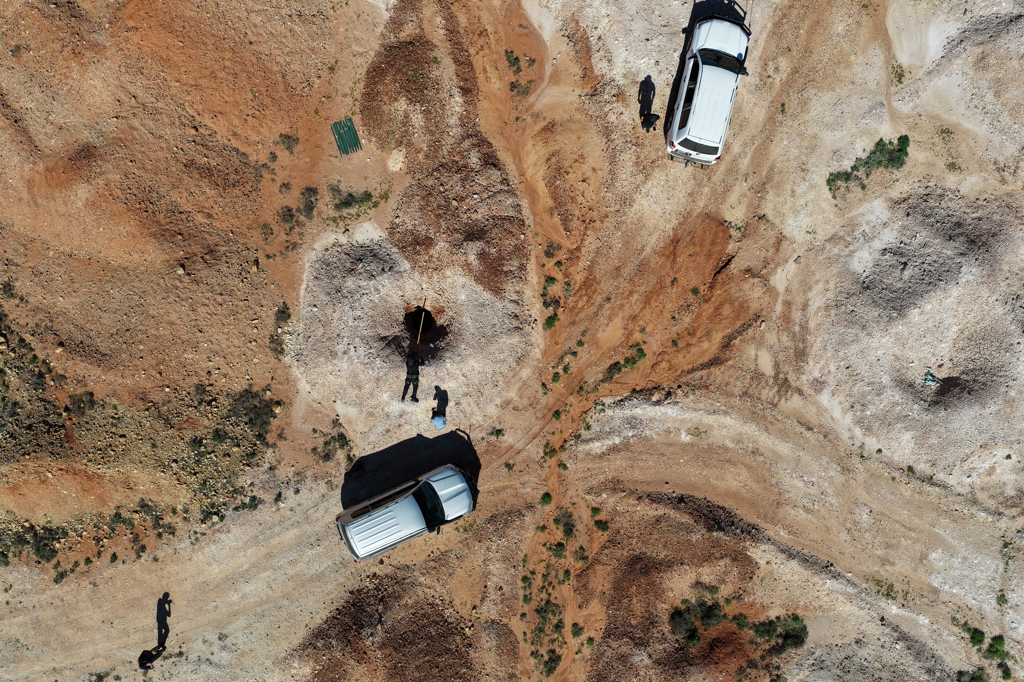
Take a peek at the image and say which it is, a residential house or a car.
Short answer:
car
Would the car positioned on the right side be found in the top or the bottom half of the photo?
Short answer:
top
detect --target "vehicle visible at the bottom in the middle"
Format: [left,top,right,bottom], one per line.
[332,459,480,563]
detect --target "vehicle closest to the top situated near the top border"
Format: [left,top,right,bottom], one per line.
[667,8,766,174]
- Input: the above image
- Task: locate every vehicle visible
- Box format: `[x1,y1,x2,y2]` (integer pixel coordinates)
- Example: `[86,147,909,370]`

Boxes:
[332,459,480,563]
[667,8,766,174]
